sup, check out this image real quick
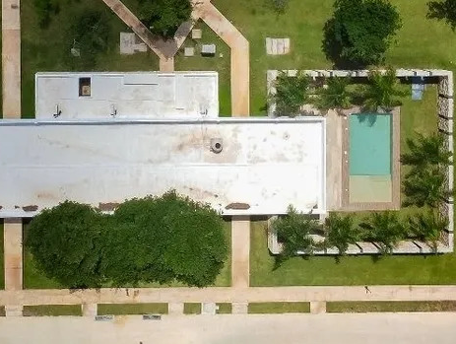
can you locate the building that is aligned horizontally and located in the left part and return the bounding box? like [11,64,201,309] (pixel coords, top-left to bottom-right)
[0,69,327,218]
